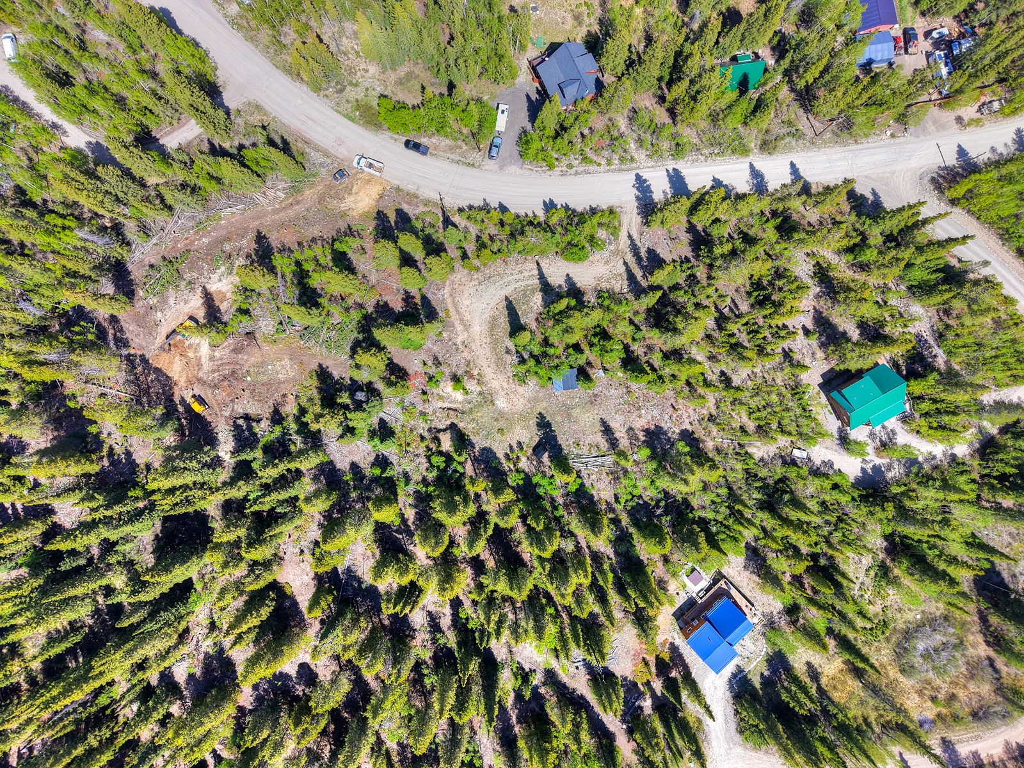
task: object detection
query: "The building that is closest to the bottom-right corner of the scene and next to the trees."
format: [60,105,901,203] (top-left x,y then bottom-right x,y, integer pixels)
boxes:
[678,577,766,675]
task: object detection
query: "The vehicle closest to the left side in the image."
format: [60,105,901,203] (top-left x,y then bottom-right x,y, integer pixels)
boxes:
[1,33,23,65]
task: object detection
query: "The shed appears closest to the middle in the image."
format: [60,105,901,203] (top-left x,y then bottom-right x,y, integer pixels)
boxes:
[552,368,578,392]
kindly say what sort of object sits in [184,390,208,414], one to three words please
work vehicle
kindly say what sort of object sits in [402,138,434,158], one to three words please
vehicle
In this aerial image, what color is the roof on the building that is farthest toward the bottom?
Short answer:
blue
